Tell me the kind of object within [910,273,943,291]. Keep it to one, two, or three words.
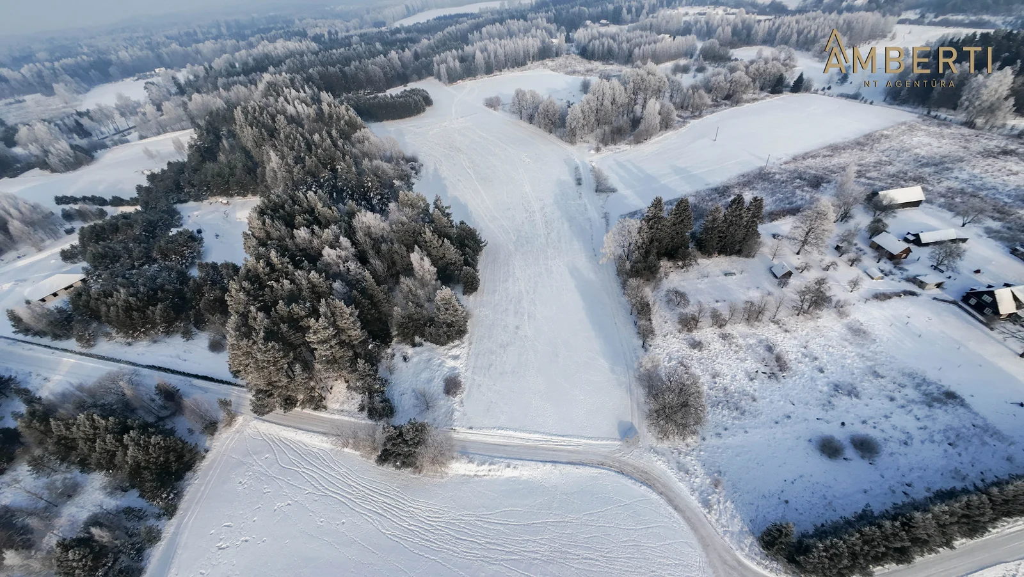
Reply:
shed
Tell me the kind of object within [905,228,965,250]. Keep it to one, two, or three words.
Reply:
shed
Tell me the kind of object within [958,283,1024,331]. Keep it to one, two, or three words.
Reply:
house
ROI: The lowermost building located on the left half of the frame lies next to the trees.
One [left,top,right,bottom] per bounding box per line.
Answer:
[26,272,90,308]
